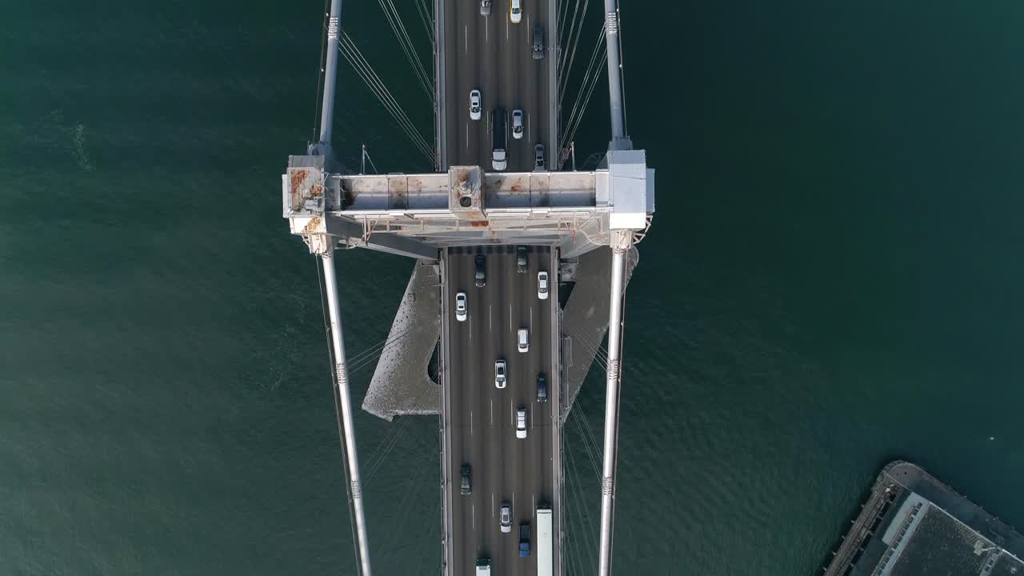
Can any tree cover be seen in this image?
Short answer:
No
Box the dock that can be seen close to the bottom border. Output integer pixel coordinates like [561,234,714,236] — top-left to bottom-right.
[812,455,1024,576]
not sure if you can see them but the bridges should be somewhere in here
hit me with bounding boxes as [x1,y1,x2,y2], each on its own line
[283,0,654,576]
